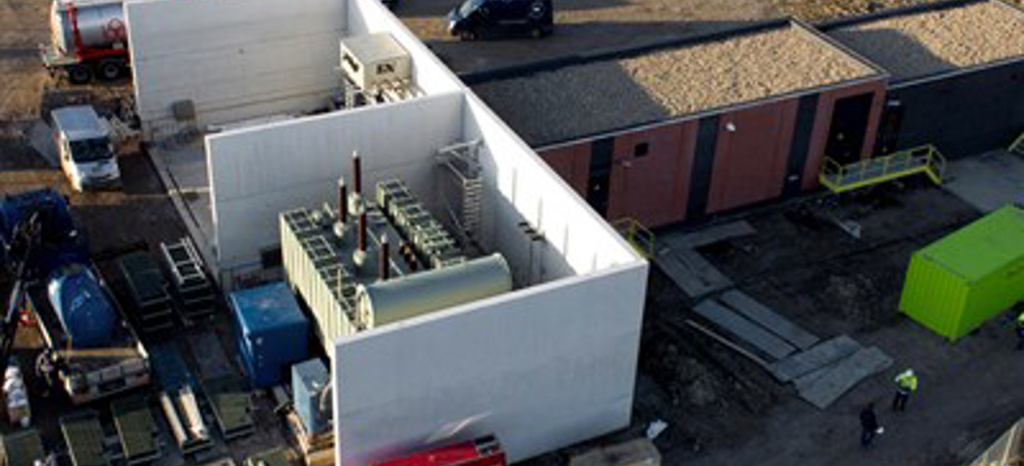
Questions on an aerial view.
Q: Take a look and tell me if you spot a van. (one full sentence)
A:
Yes, a van is visible in the scene.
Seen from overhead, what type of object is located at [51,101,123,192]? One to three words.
van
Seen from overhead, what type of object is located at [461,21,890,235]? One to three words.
building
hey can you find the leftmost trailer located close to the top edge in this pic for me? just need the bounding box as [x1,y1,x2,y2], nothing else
[35,0,132,79]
